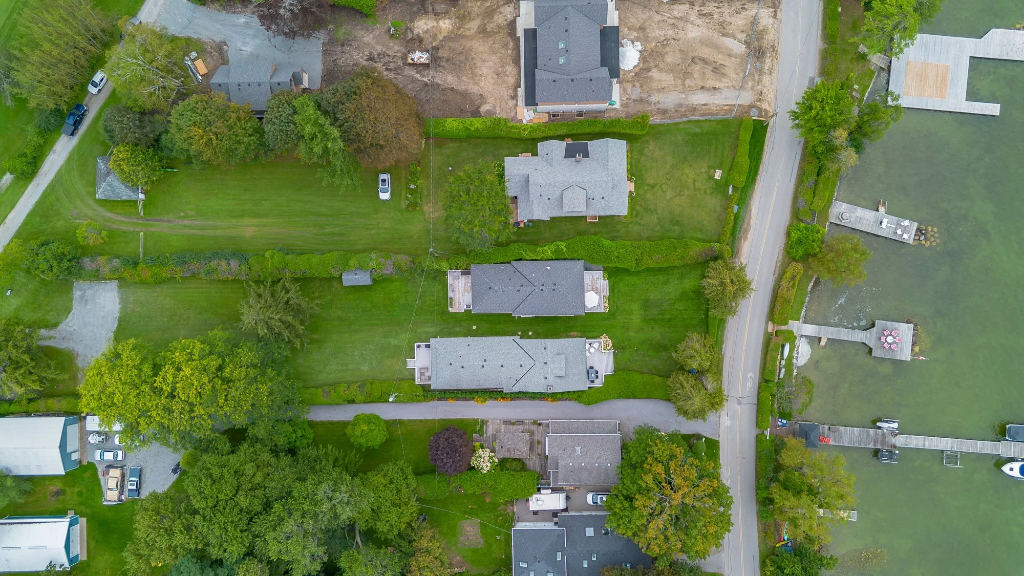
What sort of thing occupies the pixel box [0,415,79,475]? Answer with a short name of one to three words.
barn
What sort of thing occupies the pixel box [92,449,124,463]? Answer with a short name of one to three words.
car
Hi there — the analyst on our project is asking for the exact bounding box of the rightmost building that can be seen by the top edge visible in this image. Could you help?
[517,0,620,120]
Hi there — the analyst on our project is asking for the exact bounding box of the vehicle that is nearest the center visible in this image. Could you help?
[376,171,391,201]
